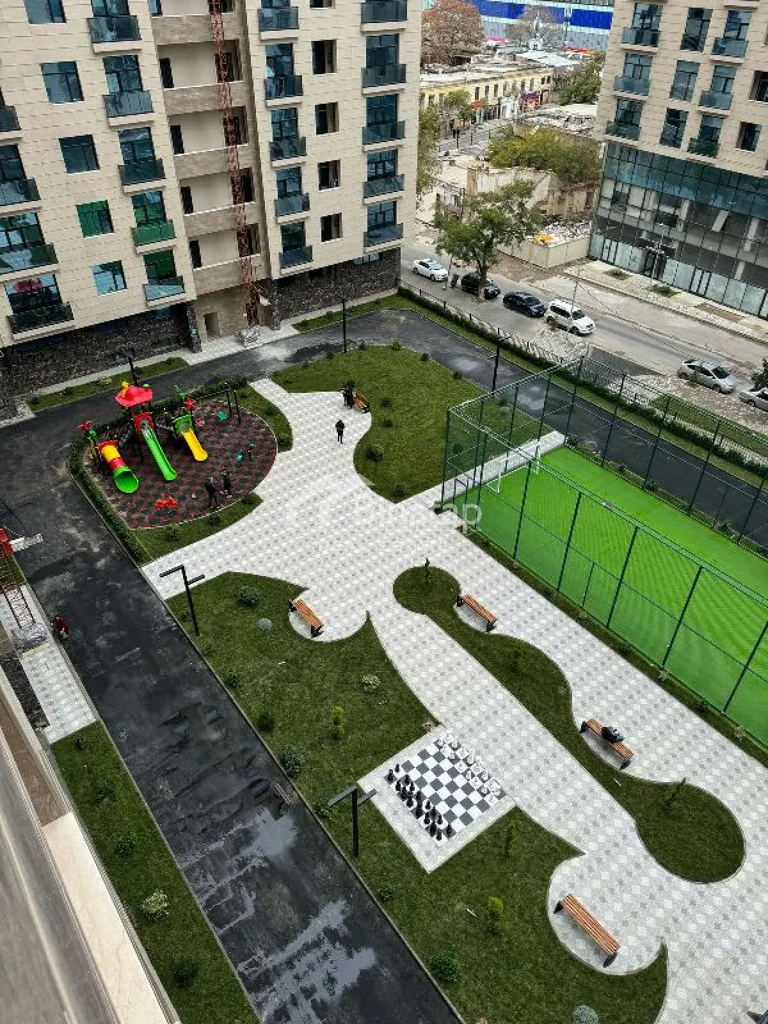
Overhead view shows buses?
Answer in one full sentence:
No, no bus can be seen from above.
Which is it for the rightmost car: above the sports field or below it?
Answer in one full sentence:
The rightmost car is found above the sports field in the photo.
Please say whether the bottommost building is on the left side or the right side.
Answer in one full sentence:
You can find the bottommost building on the left side of the picture.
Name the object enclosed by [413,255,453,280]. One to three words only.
car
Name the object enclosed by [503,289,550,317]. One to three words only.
car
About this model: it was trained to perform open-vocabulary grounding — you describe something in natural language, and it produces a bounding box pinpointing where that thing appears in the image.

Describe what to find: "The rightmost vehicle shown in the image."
[741,384,768,413]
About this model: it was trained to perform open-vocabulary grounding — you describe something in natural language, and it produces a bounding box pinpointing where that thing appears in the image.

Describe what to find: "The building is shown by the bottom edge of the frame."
[0,630,176,1024]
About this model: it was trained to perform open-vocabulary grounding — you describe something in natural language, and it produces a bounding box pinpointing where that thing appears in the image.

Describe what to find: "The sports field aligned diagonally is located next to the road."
[448,443,768,738]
